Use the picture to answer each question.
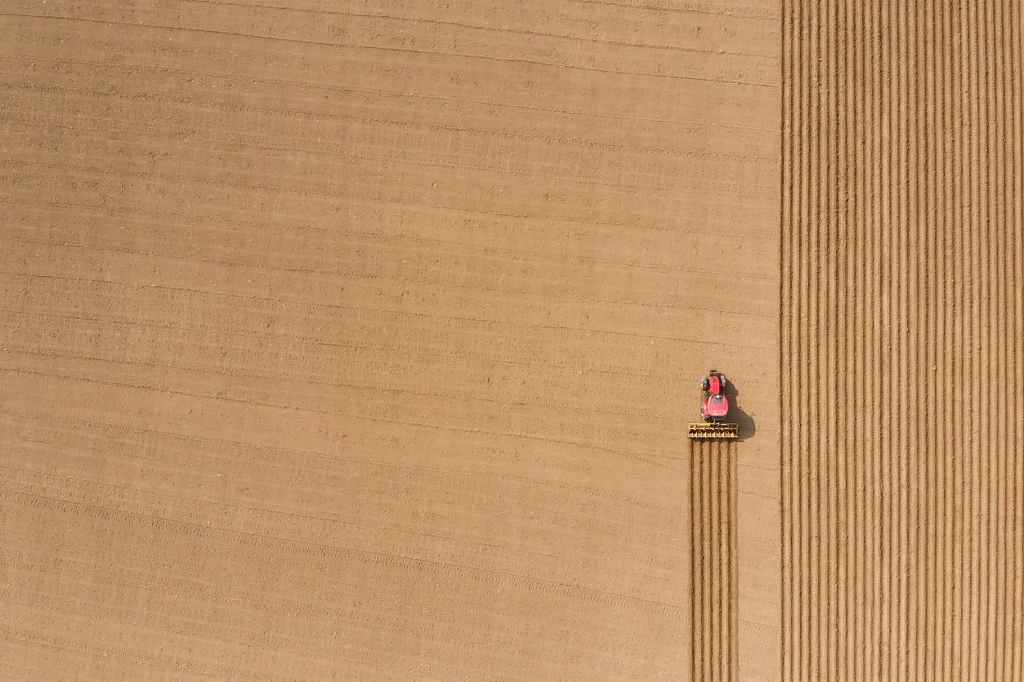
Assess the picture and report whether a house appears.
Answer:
No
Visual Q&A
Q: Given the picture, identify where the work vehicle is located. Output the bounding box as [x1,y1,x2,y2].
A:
[699,370,731,423]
